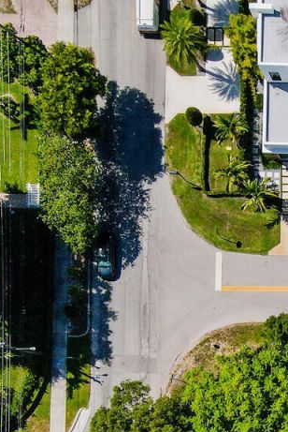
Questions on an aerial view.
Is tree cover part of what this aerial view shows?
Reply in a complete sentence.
Yes, some tree cover is visible.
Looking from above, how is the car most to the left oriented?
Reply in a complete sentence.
I'd say the car most to the left is aligned vertically in the picture.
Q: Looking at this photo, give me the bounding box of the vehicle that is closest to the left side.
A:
[97,232,119,279]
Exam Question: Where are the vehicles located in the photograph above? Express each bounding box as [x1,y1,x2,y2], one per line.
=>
[128,0,157,32]
[97,232,119,279]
